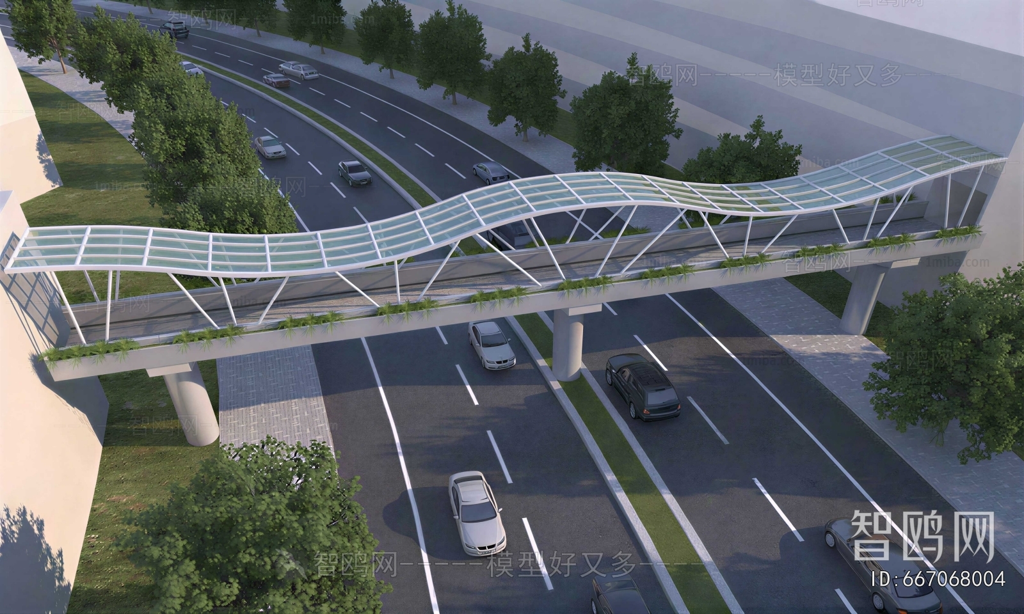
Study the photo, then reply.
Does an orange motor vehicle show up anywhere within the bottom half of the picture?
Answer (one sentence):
No, I see no orange motor vehicle within the bottom half of the picture.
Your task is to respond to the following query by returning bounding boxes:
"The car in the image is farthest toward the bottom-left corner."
[443,460,504,552]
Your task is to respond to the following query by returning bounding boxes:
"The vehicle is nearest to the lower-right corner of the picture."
[828,514,942,614]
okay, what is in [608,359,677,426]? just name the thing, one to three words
car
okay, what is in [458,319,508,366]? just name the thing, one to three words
car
